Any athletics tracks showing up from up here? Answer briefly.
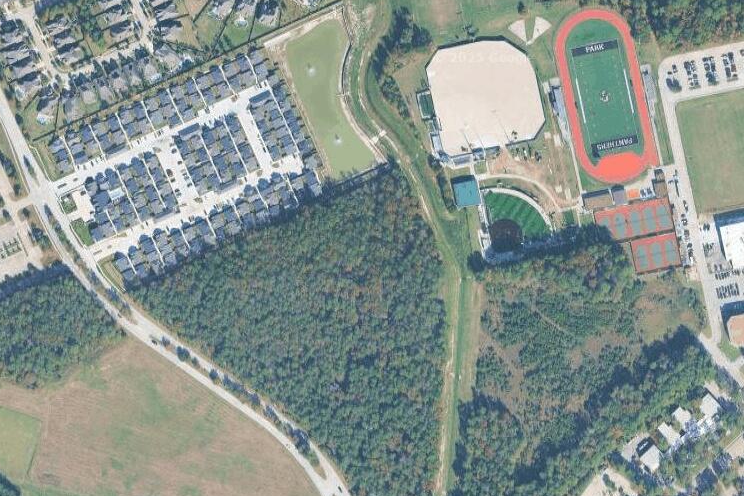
Yes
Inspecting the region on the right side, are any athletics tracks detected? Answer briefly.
Yes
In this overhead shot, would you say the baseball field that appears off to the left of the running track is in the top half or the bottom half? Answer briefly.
top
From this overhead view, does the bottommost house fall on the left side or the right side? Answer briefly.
right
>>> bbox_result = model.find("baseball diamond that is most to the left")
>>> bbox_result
[427,42,545,157]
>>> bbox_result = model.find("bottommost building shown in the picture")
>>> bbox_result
[636,441,664,470]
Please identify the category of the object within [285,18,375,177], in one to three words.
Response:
pond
